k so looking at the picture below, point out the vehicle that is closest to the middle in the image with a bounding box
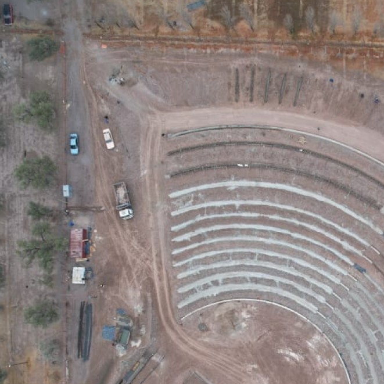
[113,183,133,221]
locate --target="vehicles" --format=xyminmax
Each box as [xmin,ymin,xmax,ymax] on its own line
[113,183,133,221]
[103,128,115,150]
[70,133,79,155]
[3,4,14,26]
